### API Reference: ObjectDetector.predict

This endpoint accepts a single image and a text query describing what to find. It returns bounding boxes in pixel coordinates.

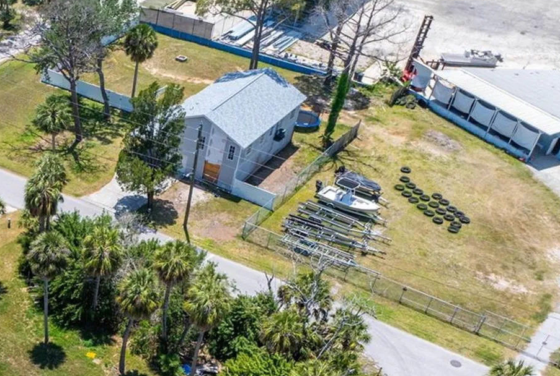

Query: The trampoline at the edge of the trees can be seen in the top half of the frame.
[296,113,324,130]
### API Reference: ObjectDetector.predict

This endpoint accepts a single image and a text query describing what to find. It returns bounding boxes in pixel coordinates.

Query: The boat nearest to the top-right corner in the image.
[440,50,504,67]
